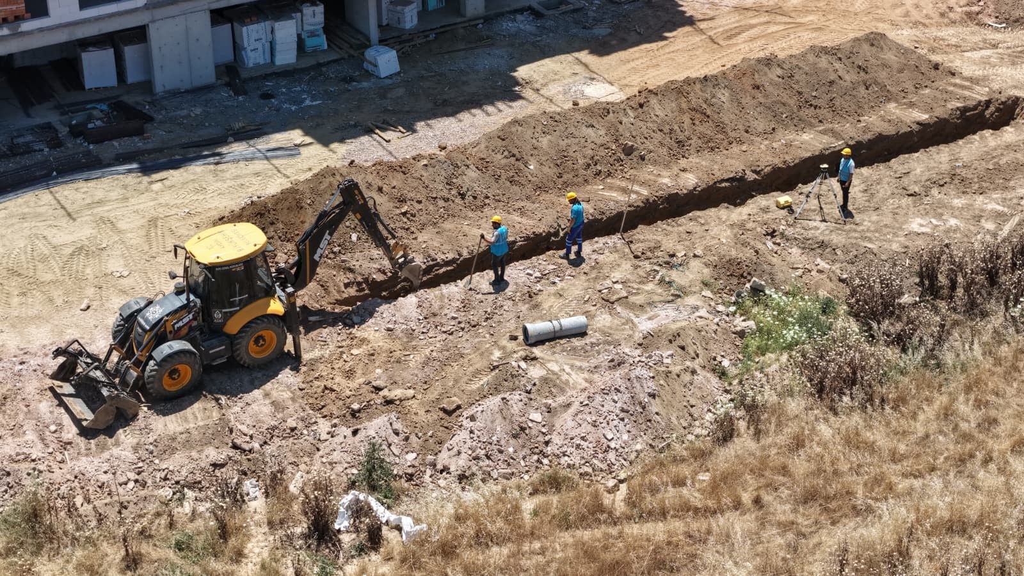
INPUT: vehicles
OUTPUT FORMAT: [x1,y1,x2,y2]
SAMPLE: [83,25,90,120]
[51,171,423,429]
